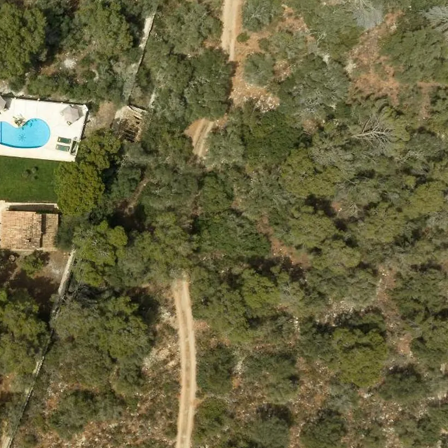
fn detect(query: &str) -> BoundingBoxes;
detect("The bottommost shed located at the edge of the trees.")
[1,211,58,250]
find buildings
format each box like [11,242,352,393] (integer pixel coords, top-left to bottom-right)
[112,103,151,148]
[1,211,58,250]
